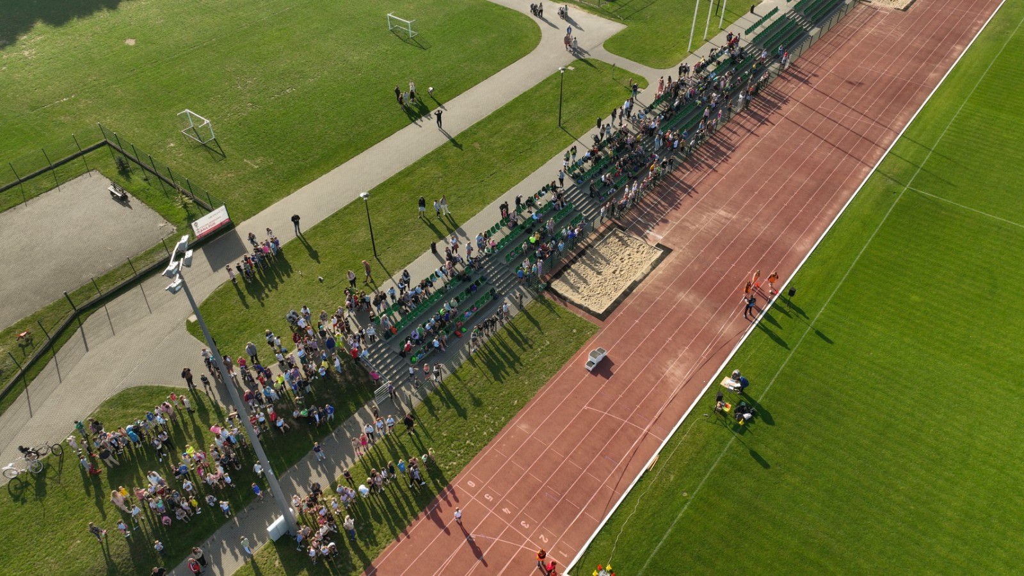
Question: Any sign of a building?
No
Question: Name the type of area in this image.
sports ground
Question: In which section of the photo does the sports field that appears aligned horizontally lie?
top left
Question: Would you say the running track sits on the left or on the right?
right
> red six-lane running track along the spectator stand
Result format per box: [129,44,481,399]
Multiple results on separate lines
[359,0,1006,576]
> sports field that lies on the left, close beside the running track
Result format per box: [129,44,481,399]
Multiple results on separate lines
[0,0,541,223]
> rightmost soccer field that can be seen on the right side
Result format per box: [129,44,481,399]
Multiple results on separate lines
[569,0,1024,576]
